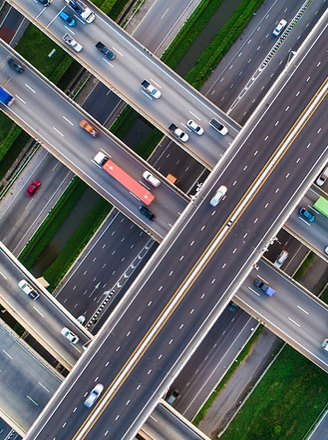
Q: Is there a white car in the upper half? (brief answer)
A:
Yes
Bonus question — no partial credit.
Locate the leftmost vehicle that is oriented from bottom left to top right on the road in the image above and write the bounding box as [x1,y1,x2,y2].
[25,180,41,199]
